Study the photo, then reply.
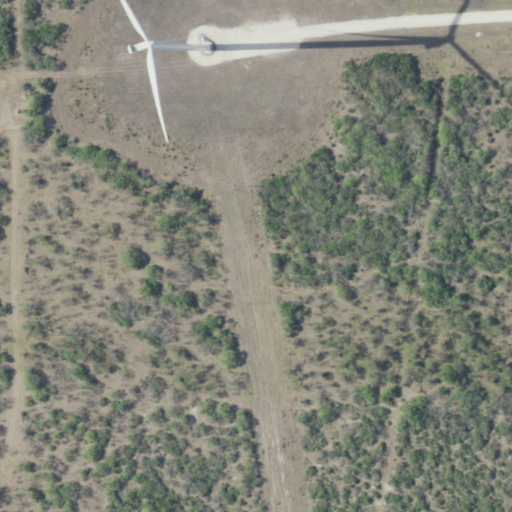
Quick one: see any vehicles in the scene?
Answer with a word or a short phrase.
No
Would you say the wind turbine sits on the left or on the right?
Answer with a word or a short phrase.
left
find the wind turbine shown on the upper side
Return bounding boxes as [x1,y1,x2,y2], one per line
[120,0,218,141]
